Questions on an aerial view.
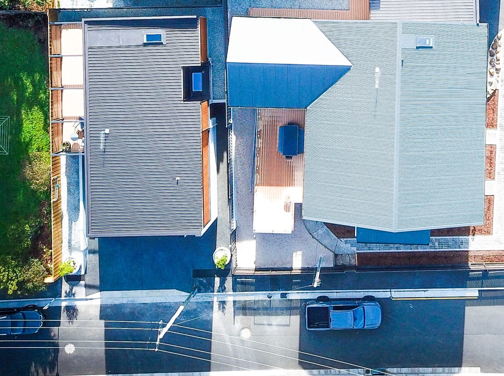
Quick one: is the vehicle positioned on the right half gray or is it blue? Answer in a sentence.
The vehicle positioned on the right half looks blue in the image.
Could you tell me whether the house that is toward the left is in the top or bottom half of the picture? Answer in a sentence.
The house that is toward the left is in the top half of the image.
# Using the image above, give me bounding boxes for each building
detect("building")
[226,15,489,234]
[82,14,220,237]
